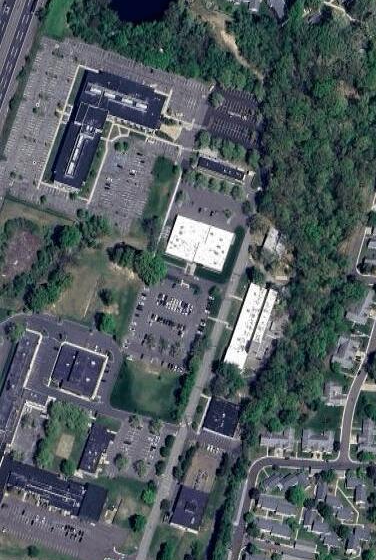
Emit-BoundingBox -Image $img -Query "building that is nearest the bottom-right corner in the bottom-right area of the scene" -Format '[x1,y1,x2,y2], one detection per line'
[345,523,371,555]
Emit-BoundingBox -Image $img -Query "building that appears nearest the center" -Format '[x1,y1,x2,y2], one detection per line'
[166,215,235,274]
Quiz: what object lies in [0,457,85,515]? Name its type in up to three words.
building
